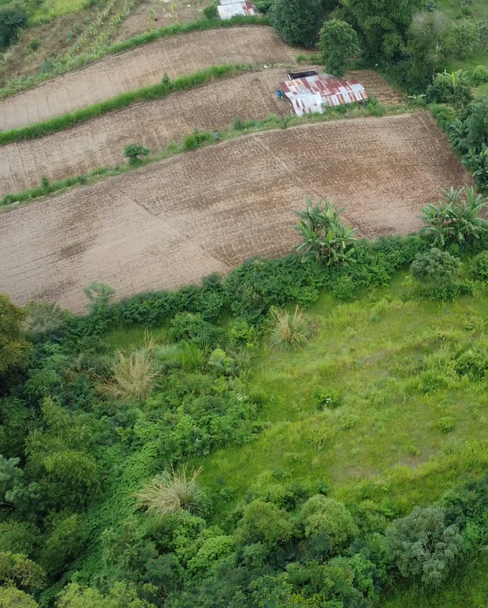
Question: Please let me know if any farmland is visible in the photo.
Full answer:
Yes, some farmland is visible.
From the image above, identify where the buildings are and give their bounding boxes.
[217,0,255,19]
[280,77,369,118]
